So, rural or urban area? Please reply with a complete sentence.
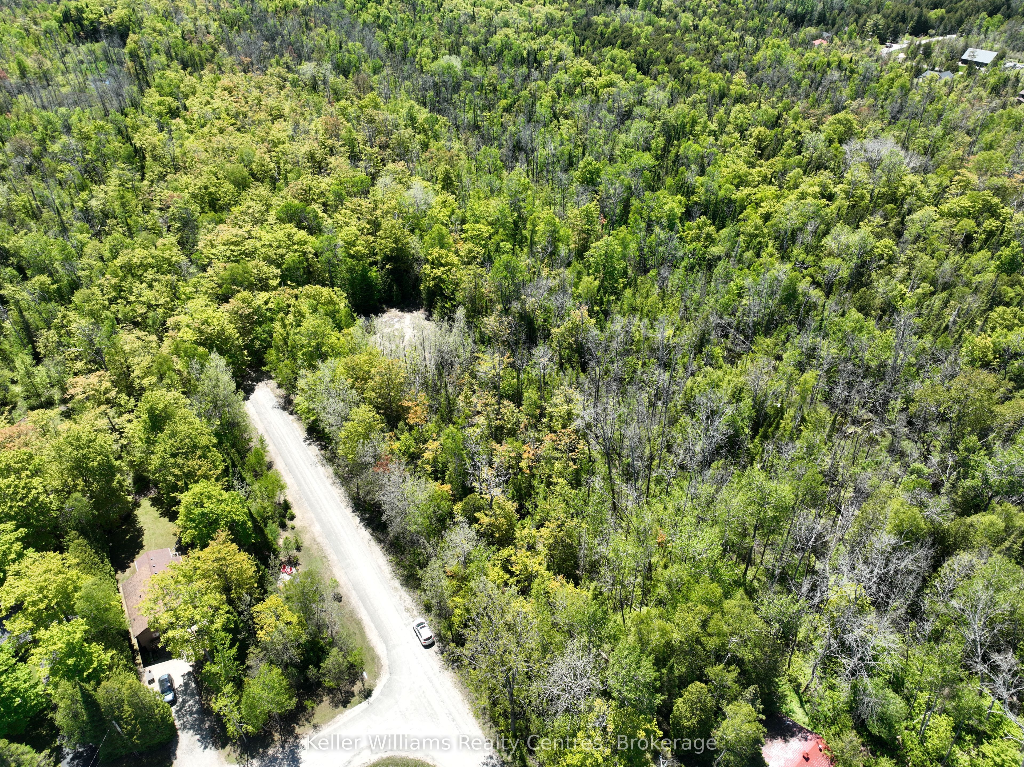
The area shown here is rural.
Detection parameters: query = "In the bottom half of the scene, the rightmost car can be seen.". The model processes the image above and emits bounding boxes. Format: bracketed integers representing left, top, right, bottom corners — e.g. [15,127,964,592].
[414,617,436,650]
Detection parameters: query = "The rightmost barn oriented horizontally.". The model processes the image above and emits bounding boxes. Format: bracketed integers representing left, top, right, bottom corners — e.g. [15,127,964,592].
[960,47,1013,70]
